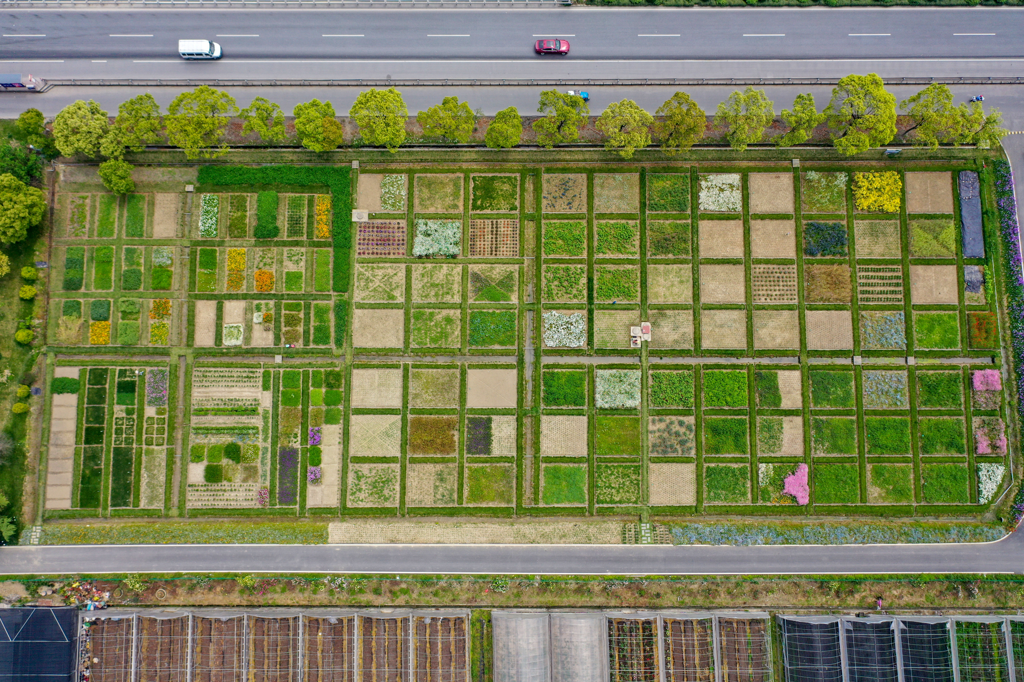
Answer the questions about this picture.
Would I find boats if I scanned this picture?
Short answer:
No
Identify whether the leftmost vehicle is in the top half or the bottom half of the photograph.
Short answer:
top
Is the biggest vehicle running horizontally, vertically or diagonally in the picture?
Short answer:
horizontally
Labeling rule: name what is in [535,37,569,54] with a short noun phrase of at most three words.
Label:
car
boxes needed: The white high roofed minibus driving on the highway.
[176,41,221,61]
